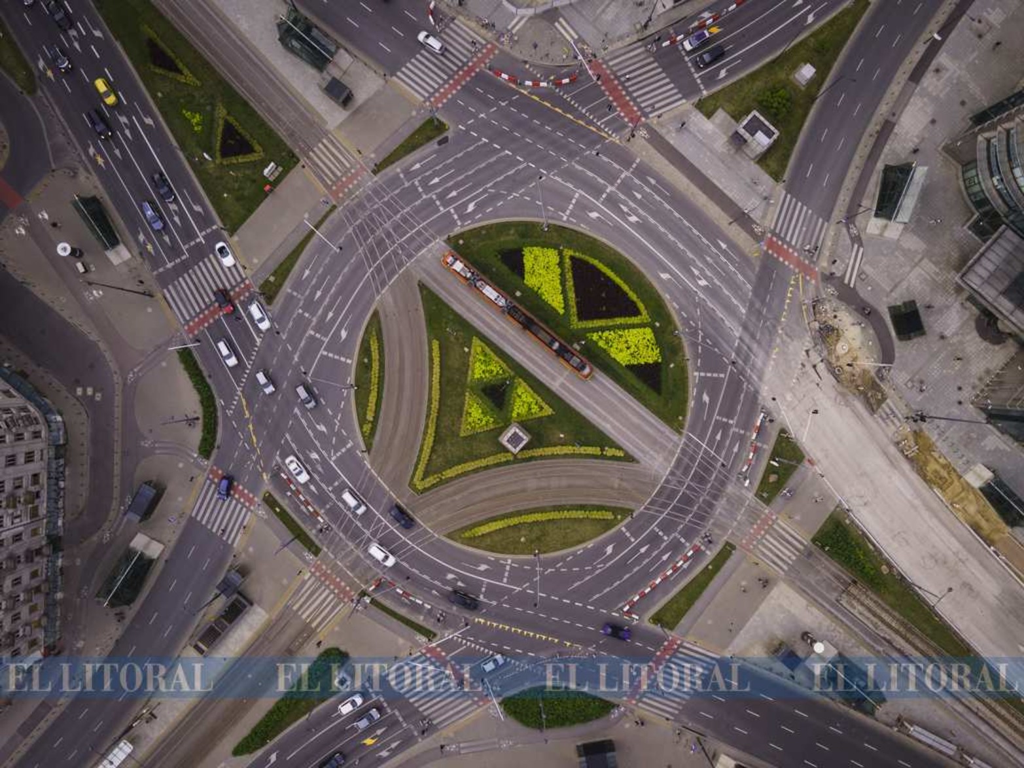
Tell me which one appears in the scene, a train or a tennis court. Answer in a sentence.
The image shows a train.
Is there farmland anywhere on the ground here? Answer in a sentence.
No, the picture contains no farmland.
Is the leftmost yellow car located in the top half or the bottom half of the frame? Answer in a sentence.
You can find the leftmost yellow car in the top half.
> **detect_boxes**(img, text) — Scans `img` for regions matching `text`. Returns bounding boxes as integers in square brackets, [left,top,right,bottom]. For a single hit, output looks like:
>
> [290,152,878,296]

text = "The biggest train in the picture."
[441,252,594,378]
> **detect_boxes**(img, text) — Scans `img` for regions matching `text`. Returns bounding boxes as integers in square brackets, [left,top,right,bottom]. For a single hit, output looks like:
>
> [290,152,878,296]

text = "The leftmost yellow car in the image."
[92,75,116,106]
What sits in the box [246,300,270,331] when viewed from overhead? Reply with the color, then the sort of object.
white car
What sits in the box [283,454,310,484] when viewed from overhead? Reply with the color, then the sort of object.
white car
